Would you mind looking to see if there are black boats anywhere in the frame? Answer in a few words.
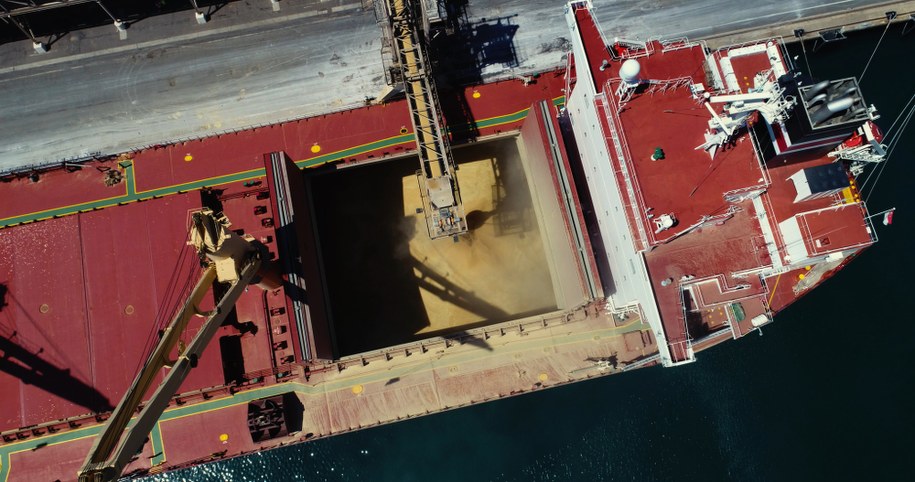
No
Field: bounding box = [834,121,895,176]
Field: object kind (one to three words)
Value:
boat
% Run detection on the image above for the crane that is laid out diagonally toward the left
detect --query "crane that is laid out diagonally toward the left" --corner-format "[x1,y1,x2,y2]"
[69,199,283,482]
